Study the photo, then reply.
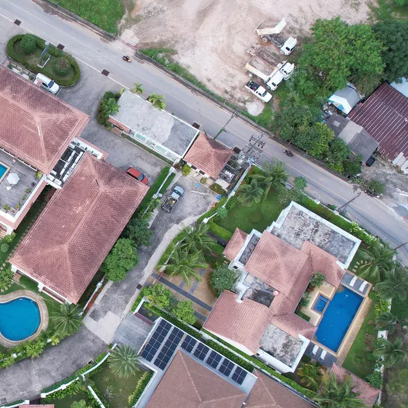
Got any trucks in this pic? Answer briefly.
Yes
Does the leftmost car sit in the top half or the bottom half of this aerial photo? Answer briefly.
top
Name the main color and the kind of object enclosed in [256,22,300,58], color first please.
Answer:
white truck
